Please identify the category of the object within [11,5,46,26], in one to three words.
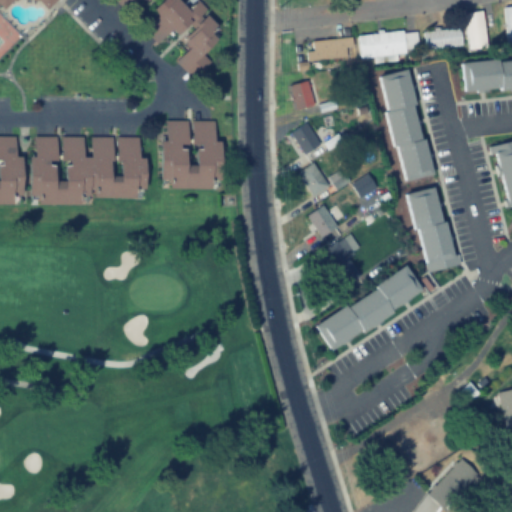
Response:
swimming pool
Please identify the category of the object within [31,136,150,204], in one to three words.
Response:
building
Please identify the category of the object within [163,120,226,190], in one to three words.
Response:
building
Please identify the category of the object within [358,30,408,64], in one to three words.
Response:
house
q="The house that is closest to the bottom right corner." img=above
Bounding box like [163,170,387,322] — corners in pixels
[430,460,480,510]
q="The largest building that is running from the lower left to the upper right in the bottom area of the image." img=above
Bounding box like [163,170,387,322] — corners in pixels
[314,266,424,350]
